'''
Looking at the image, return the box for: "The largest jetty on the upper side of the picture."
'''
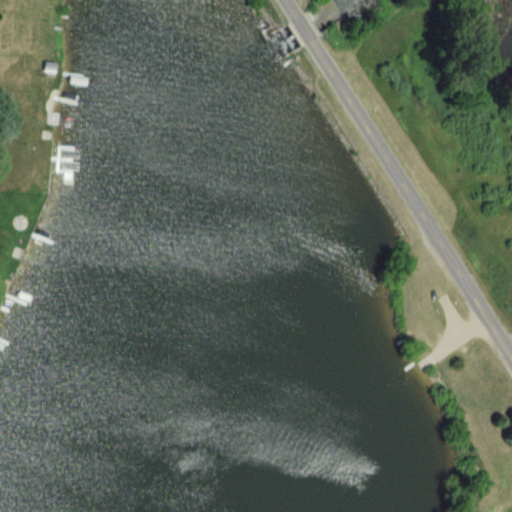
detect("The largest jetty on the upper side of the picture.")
[50,144,76,175]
